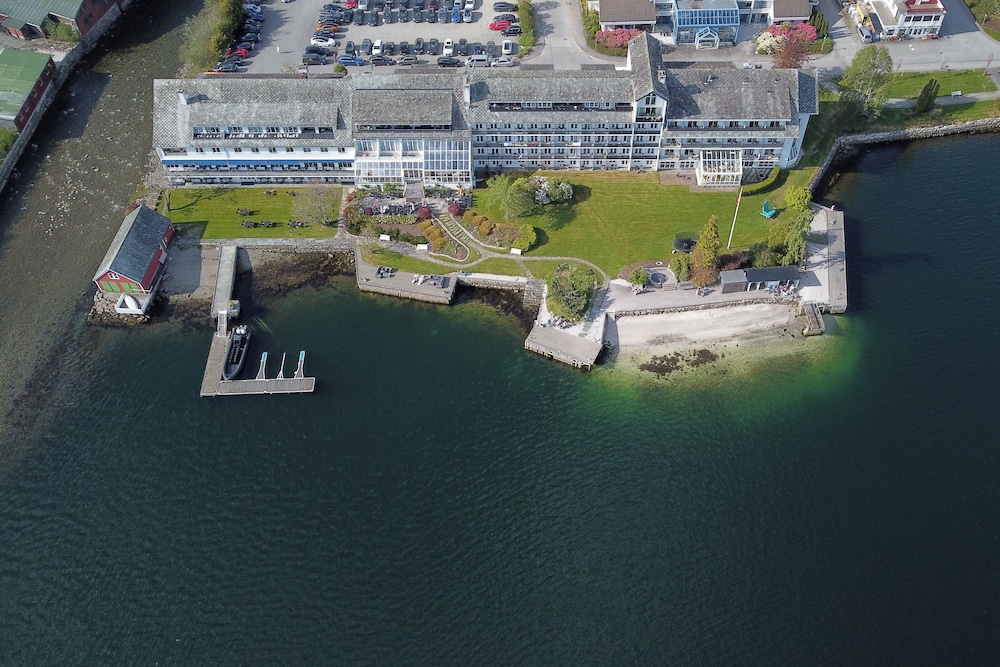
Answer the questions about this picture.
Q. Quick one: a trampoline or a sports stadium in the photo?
trampoline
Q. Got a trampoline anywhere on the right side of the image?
Yes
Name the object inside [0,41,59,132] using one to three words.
building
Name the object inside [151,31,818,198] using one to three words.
building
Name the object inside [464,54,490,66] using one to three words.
vehicle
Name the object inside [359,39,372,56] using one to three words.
vehicle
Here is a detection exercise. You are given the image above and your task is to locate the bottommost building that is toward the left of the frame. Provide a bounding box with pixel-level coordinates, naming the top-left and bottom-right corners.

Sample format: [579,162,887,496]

[89,201,175,300]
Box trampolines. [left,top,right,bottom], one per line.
[673,230,700,256]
